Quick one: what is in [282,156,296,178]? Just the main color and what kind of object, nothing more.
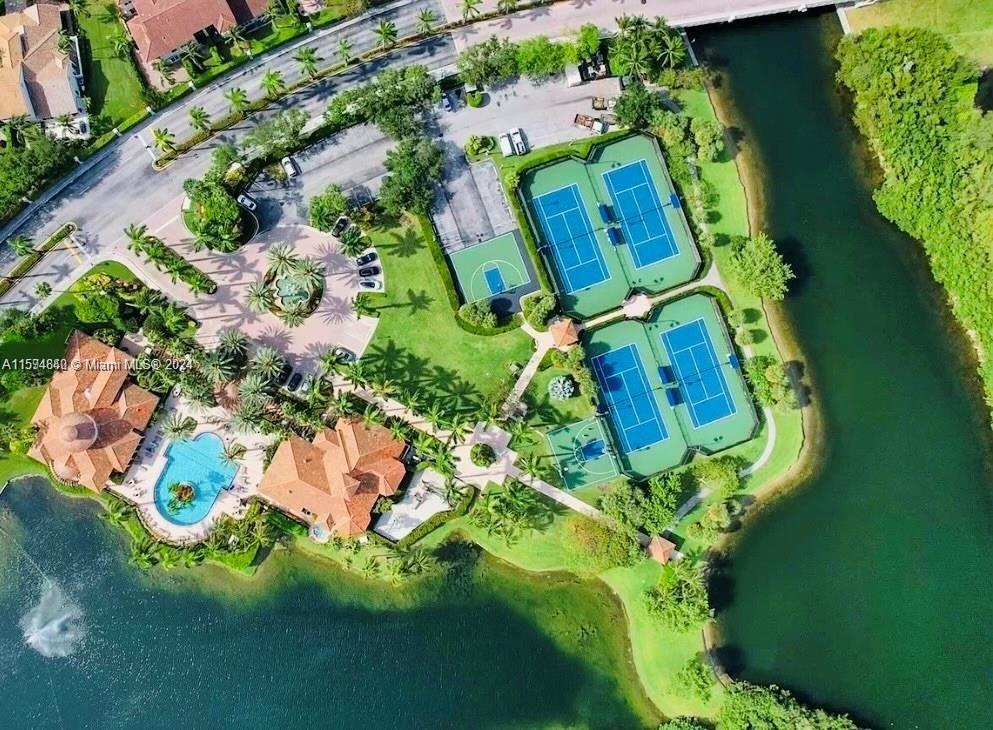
white vehicle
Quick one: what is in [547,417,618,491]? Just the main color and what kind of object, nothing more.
green basketball court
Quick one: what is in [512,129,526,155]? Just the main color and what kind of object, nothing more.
white vehicle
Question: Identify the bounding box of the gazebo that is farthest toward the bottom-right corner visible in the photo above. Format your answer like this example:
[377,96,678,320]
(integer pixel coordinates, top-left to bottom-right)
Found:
[646,532,677,562]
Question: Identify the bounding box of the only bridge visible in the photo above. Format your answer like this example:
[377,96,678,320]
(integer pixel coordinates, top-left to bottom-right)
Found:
[671,0,880,28]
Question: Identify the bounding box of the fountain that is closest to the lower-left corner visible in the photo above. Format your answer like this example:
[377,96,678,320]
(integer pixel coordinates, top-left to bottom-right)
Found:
[26,563,105,653]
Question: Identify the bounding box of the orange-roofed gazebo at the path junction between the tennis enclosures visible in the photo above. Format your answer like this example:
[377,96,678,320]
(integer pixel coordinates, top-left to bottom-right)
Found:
[550,318,579,347]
